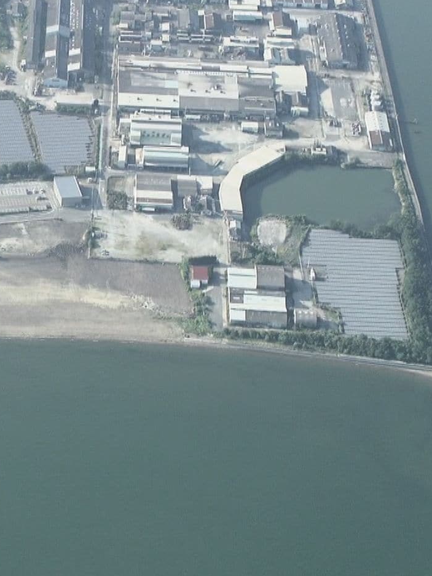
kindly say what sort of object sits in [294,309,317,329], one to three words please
building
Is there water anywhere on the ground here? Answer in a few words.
Yes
